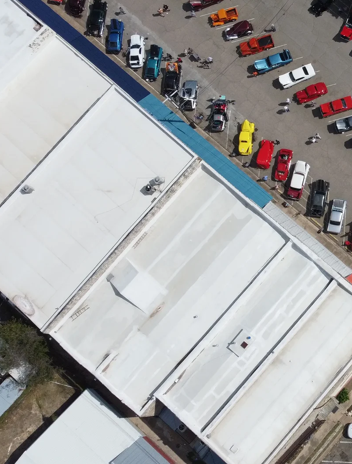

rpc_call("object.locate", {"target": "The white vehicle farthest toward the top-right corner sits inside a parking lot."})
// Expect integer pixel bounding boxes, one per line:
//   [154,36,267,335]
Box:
[277,63,318,88]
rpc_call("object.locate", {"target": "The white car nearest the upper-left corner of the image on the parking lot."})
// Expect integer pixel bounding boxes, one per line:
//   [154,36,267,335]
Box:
[121,34,149,68]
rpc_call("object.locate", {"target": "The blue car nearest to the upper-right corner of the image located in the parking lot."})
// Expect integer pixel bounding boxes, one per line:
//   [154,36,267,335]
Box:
[253,50,294,73]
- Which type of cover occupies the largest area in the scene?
buildings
